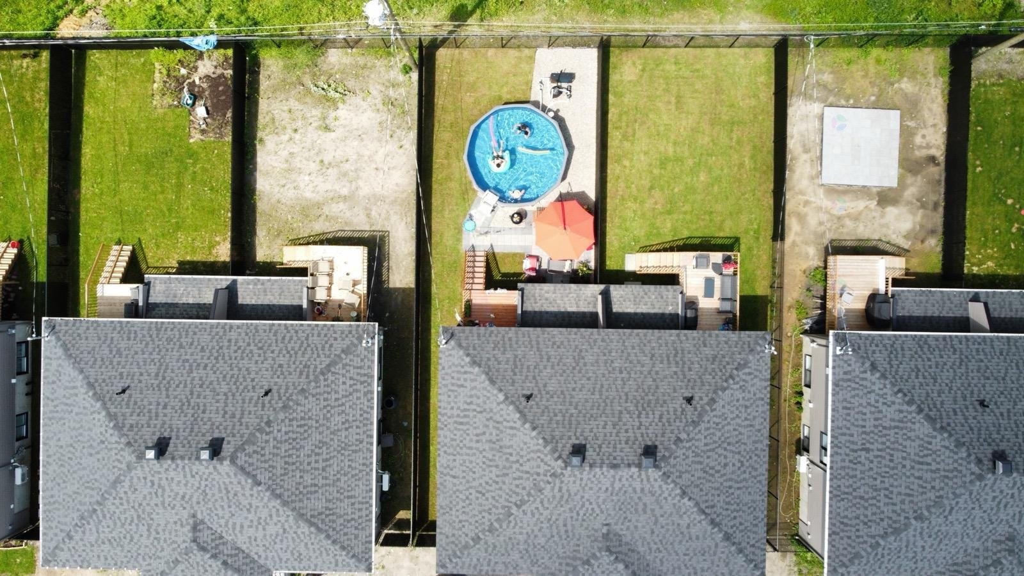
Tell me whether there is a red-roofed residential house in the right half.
No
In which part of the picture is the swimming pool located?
top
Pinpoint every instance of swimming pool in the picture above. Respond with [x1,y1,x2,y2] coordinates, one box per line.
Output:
[464,103,569,208]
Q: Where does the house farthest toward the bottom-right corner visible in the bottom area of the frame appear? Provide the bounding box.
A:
[801,284,1024,576]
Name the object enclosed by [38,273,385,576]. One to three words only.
house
